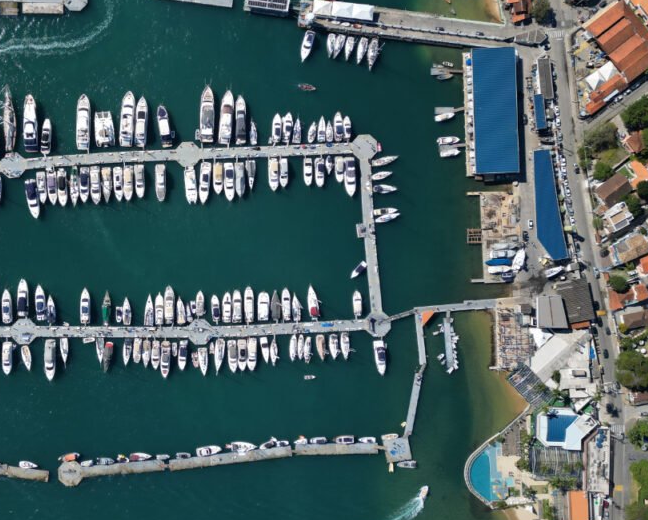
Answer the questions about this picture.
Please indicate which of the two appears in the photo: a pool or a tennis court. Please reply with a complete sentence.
It is a pool that can be seen here.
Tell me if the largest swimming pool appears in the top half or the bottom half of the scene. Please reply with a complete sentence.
The largest swimming pool sits in the bottom half of the picture.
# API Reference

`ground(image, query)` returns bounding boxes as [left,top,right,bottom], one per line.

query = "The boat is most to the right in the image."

[546,264,566,278]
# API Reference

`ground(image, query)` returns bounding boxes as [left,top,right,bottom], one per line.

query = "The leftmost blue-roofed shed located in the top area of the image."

[464,43,520,173]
